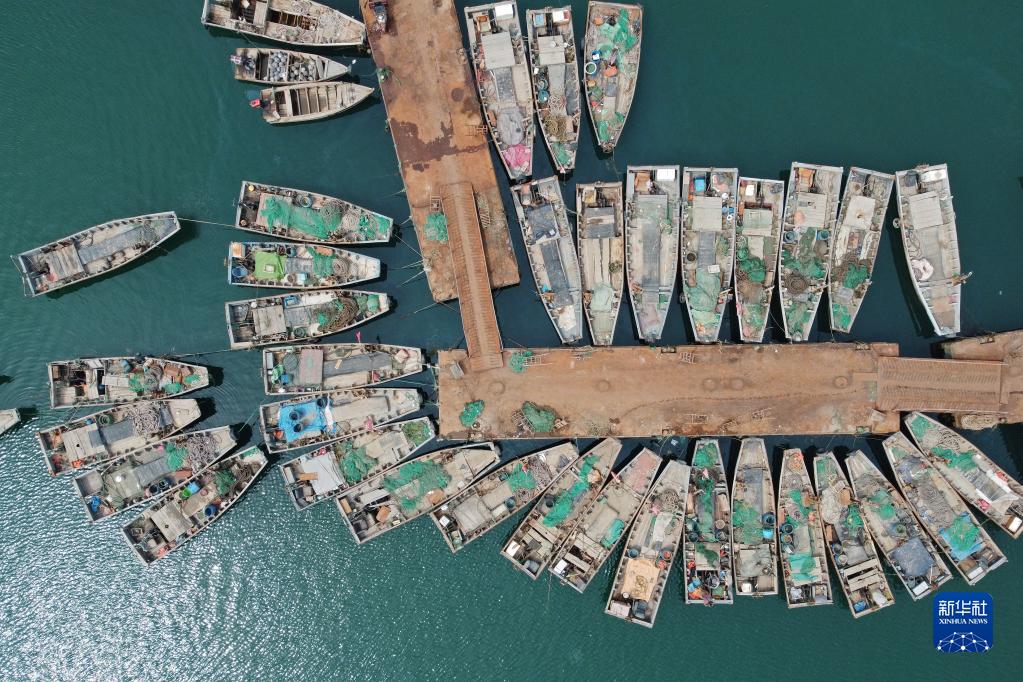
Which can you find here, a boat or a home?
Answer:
boat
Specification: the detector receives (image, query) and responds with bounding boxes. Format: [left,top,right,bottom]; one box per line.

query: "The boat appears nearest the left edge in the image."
[0,407,25,439]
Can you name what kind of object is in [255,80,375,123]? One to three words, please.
boat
